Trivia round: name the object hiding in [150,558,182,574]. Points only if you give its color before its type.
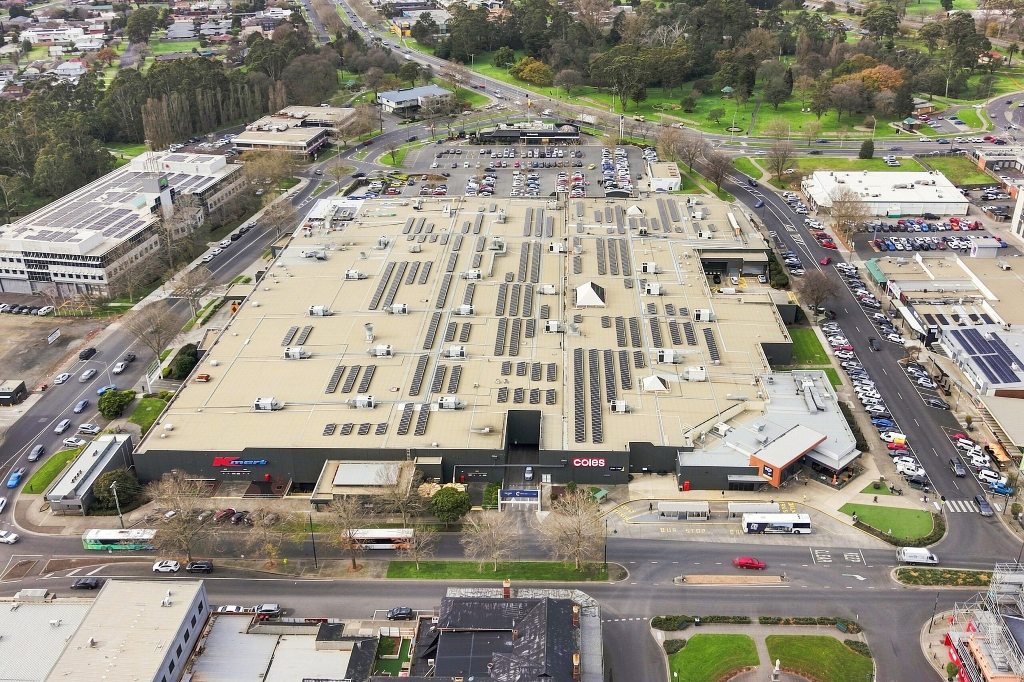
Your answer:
white car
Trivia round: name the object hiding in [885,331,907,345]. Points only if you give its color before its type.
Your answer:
white car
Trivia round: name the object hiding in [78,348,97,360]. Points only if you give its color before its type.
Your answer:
black vehicle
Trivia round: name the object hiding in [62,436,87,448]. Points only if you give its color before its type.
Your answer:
white vehicle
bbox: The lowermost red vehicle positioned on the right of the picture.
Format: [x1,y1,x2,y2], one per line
[734,556,765,570]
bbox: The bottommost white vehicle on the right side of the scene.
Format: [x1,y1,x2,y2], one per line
[896,544,938,566]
